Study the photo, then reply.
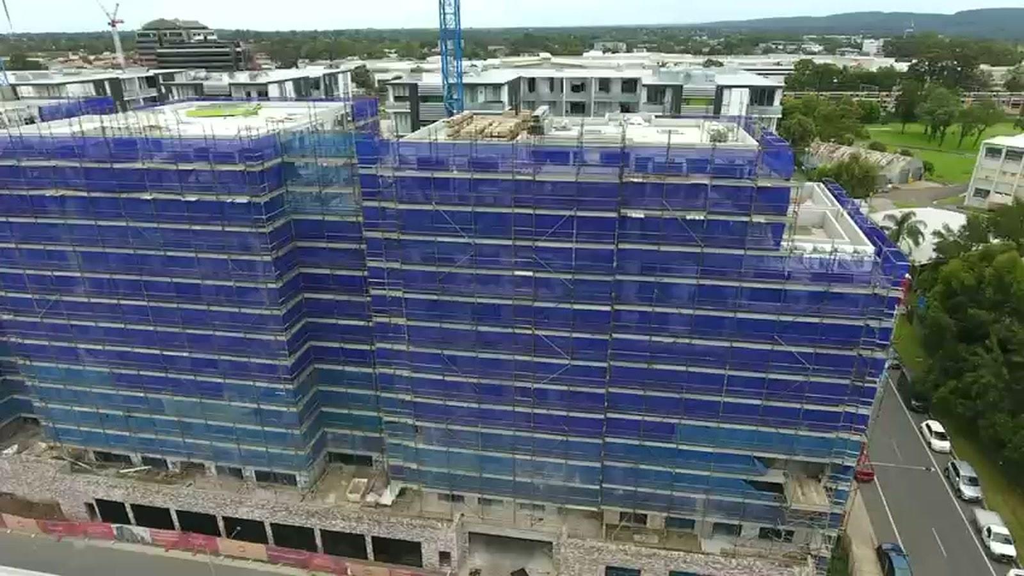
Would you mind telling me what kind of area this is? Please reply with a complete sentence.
This image shows a residential area.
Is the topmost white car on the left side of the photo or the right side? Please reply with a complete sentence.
You can find the topmost white car on the right side of the picture.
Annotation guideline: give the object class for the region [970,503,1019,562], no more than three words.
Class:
truck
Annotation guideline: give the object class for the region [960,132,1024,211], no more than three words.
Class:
building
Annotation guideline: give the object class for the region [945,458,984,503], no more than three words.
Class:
car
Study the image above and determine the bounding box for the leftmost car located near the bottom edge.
[874,547,911,576]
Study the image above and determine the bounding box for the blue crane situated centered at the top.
[435,0,461,113]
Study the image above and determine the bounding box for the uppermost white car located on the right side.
[921,423,952,456]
